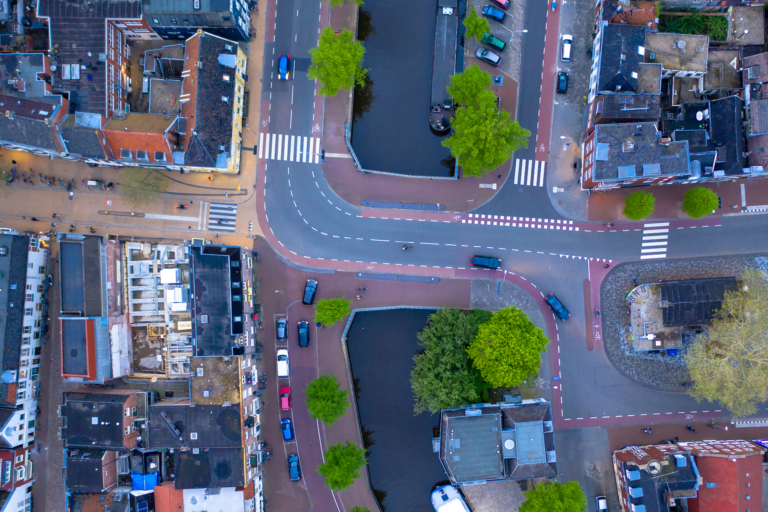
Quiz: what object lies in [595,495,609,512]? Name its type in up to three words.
vehicle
